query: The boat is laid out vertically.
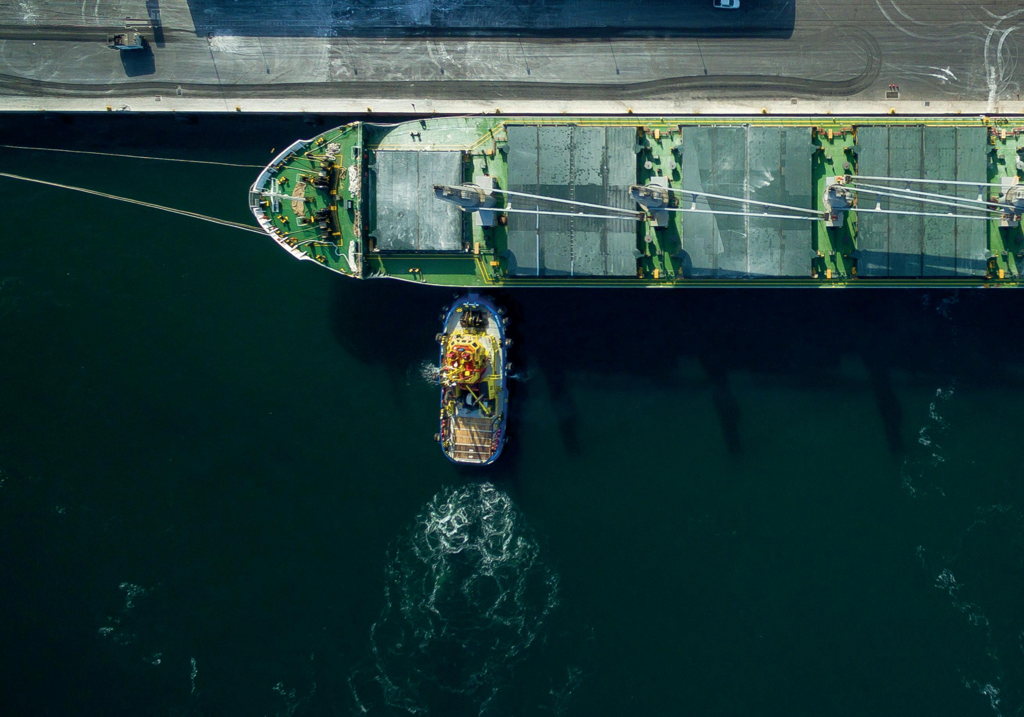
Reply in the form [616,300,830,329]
[436,292,512,465]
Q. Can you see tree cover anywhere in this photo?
No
